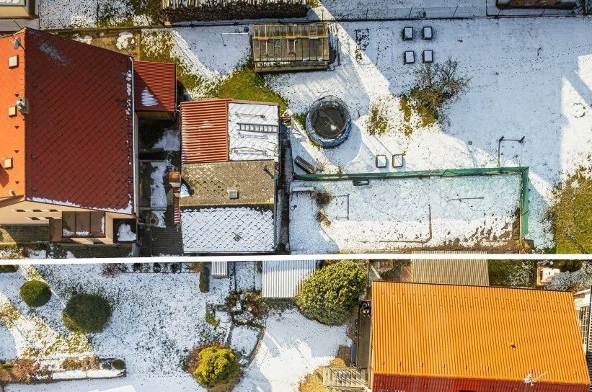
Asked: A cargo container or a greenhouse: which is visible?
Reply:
greenhouse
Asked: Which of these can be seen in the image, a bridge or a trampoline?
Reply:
trampoline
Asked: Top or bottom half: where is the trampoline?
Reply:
top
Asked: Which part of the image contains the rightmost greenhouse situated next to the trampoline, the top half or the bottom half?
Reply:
top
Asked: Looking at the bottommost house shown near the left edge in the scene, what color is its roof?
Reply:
red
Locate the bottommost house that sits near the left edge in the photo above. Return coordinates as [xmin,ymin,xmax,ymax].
[0,25,156,251]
